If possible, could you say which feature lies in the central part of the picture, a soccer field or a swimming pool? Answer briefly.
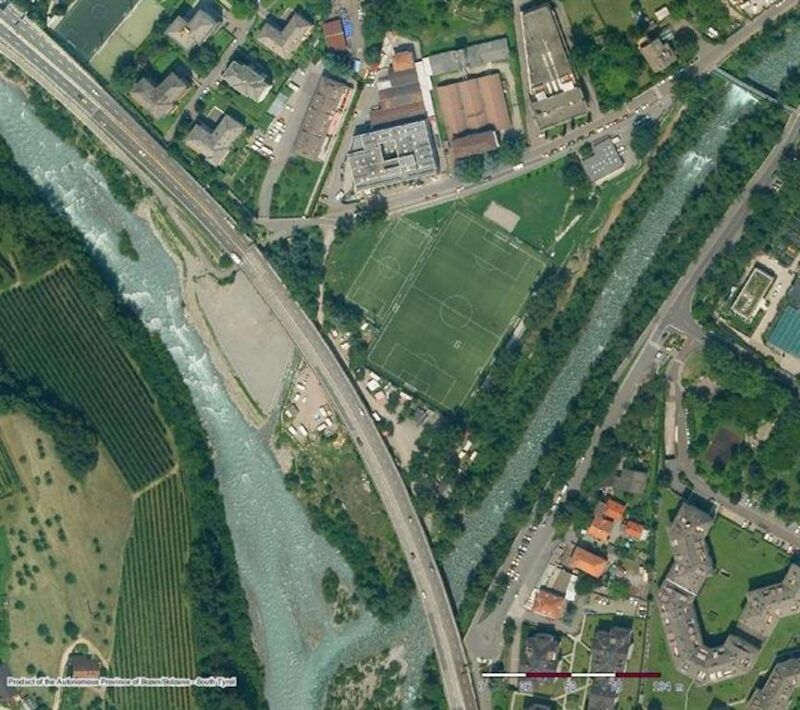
soccer field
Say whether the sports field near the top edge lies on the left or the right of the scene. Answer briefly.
left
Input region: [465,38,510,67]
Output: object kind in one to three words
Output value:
building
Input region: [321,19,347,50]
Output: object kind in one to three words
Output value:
shed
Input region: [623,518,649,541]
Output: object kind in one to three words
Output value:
house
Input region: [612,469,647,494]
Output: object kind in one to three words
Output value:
house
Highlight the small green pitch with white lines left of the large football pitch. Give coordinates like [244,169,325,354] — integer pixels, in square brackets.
[343,218,438,317]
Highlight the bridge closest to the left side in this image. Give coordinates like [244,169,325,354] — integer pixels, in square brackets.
[0,2,477,710]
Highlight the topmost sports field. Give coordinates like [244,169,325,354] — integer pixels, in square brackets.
[94,0,164,78]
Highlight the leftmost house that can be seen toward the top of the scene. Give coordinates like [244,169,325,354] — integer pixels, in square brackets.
[129,73,187,120]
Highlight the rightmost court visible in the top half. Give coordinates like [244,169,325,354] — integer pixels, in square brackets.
[484,202,520,232]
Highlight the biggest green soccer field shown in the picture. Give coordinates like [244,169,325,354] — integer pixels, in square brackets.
[364,207,550,414]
